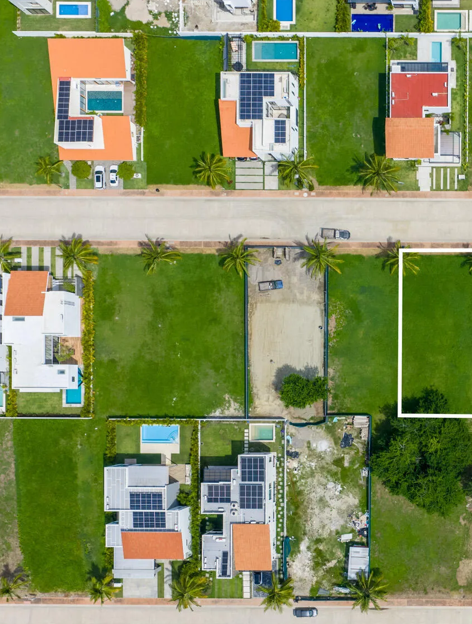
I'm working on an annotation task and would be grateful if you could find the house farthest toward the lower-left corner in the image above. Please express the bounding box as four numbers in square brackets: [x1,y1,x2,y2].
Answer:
[104,464,192,577]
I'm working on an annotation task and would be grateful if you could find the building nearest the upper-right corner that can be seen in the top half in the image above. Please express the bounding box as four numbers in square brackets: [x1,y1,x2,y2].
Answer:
[432,0,461,15]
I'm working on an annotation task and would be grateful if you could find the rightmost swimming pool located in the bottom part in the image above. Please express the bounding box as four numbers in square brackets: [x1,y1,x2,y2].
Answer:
[249,423,276,443]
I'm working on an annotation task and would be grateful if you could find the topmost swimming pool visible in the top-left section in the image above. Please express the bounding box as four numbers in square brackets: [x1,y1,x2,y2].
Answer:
[56,1,92,19]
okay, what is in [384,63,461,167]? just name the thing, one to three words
house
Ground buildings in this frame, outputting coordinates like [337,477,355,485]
[104,464,192,577]
[9,0,52,15]
[219,72,301,166]
[432,0,461,15]
[48,39,141,164]
[201,452,277,578]
[384,63,461,167]
[3,271,86,393]
[218,0,259,20]
[347,544,370,579]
